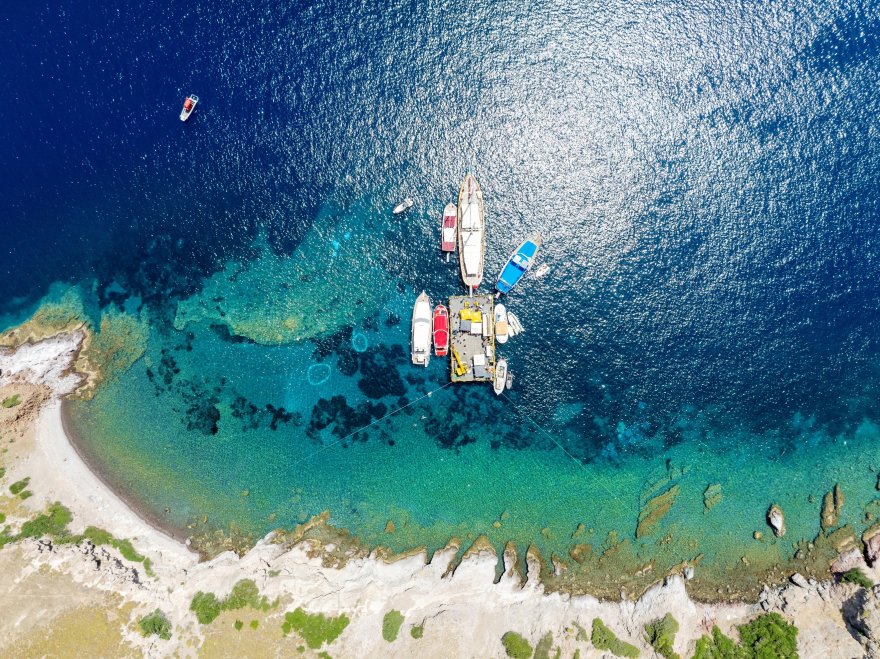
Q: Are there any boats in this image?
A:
Yes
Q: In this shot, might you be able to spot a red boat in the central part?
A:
Yes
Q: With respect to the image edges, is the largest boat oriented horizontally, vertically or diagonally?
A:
vertically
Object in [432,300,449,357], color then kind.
red boat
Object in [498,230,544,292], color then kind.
blue boat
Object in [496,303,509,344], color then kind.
white boat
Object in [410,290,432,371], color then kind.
white boat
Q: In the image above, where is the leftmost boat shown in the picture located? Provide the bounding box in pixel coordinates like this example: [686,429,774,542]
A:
[180,89,199,121]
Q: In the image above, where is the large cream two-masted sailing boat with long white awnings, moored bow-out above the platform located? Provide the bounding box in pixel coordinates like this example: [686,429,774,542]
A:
[459,155,484,289]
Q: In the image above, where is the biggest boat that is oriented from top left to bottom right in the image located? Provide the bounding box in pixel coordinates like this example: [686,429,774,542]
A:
[508,312,524,334]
